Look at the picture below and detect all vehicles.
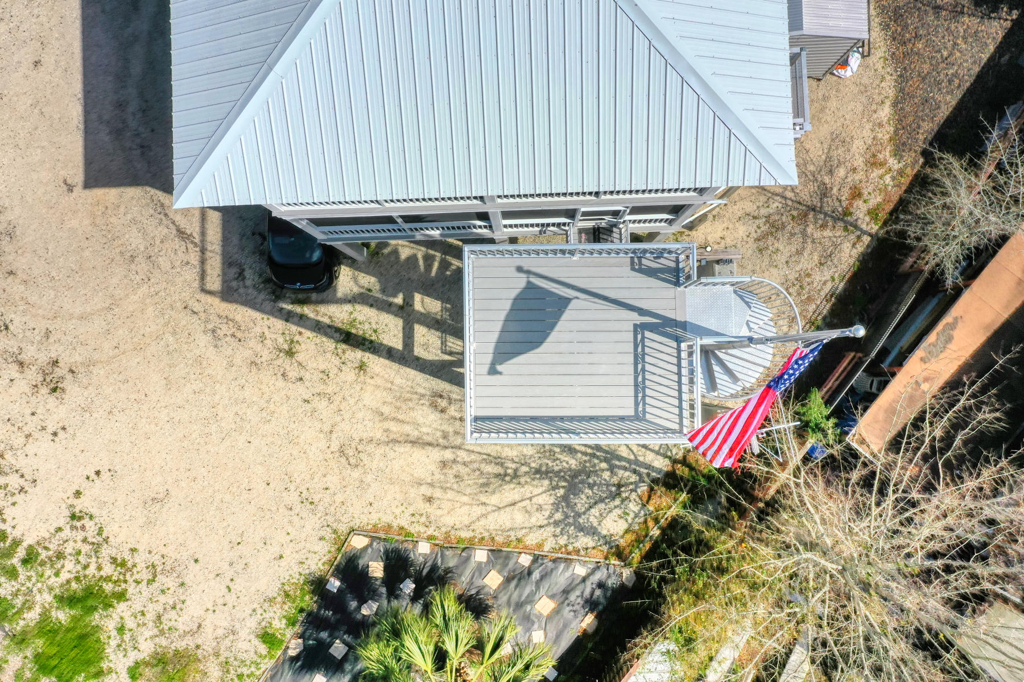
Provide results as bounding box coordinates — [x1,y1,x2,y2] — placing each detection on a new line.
[266,207,345,293]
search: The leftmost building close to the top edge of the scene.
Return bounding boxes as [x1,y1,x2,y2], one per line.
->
[168,0,813,258]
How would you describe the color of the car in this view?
black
